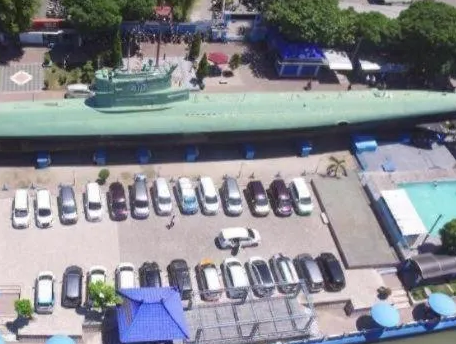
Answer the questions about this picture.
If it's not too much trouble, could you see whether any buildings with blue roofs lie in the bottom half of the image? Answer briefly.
Yes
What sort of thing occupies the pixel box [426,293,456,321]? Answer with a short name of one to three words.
umbrella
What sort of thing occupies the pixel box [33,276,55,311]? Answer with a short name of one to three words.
car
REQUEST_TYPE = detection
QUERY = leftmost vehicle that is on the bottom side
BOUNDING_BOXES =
[10,190,30,227]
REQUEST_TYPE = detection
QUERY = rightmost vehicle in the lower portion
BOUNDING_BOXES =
[315,254,347,293]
